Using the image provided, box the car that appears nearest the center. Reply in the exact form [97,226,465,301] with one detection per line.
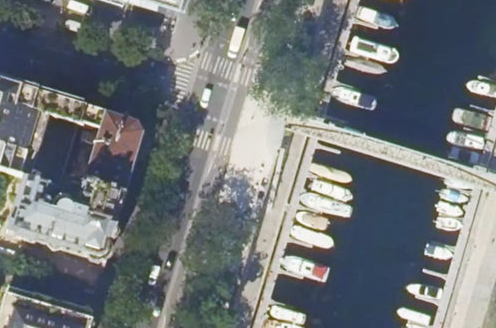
[199,86,213,109]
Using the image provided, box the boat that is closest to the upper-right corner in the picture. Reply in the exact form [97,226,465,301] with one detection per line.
[466,80,496,100]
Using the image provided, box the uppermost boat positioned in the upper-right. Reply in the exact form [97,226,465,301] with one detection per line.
[354,7,399,28]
